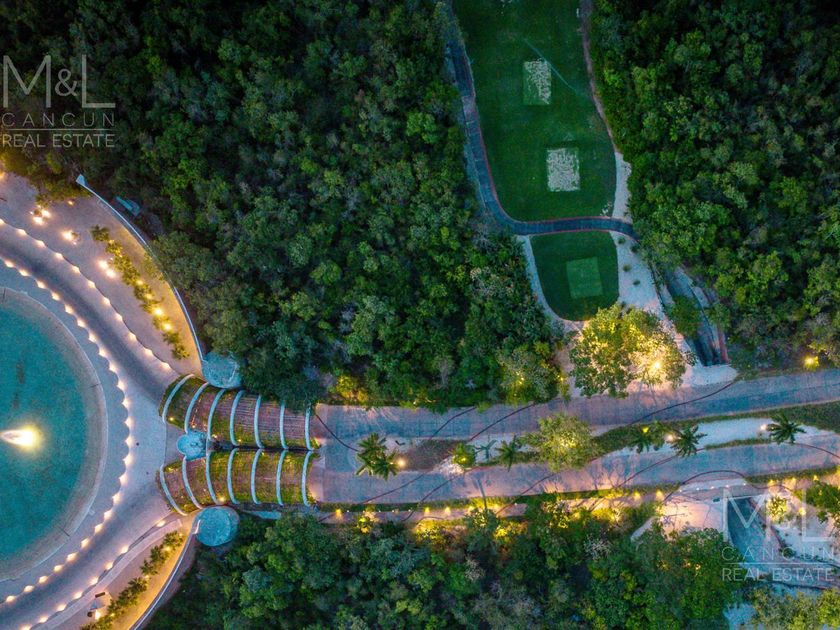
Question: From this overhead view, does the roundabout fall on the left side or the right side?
left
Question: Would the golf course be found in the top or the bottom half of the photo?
top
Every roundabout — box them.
[0,222,171,630]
